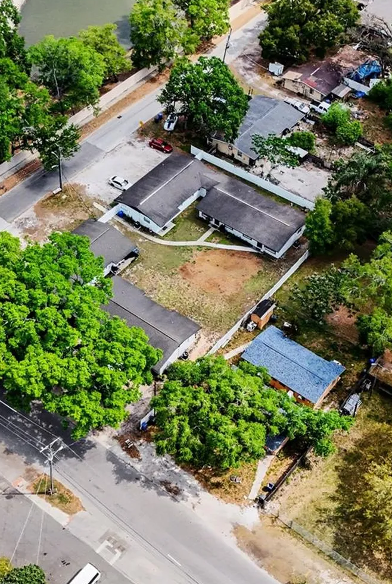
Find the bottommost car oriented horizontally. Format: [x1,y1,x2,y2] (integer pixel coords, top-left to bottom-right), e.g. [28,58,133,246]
[106,176,130,188]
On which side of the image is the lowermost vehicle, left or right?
left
